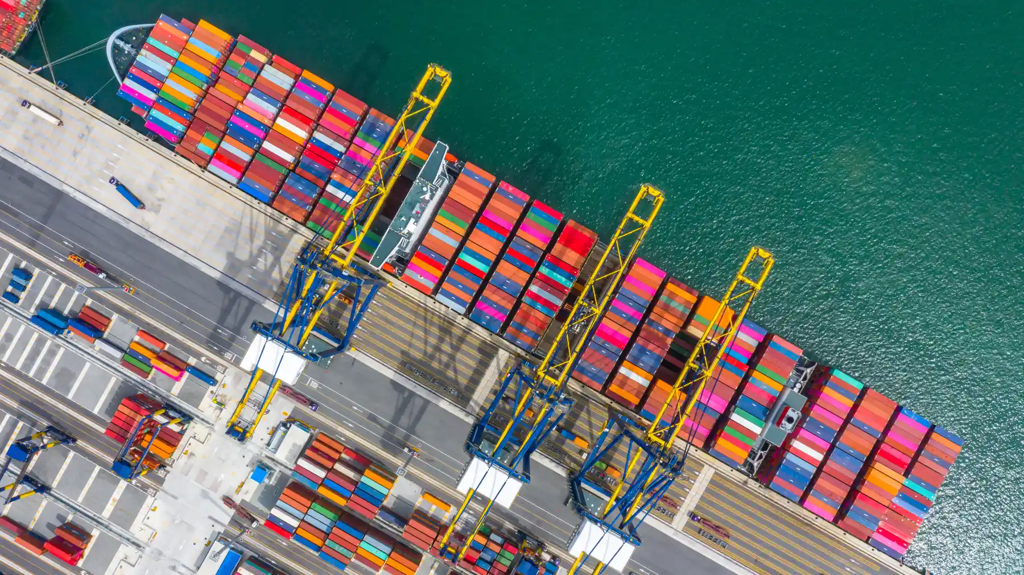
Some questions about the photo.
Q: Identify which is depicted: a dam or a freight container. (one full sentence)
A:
There is a freight container in the scene.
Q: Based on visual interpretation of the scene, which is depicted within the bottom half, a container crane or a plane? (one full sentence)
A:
Visible within the bottom half is a container crane.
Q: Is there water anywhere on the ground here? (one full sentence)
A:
Yes, some water is visible.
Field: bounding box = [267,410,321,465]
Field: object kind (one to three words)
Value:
shed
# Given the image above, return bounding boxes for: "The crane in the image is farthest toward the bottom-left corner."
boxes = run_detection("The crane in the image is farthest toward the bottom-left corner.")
[0,429,77,507]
